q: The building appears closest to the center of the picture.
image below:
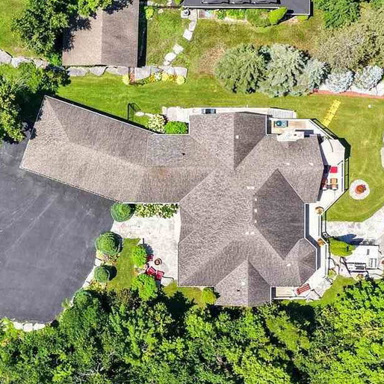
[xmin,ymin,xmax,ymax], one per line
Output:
[20,95,324,306]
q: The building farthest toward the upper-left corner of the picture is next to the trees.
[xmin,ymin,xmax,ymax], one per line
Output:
[62,0,140,68]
